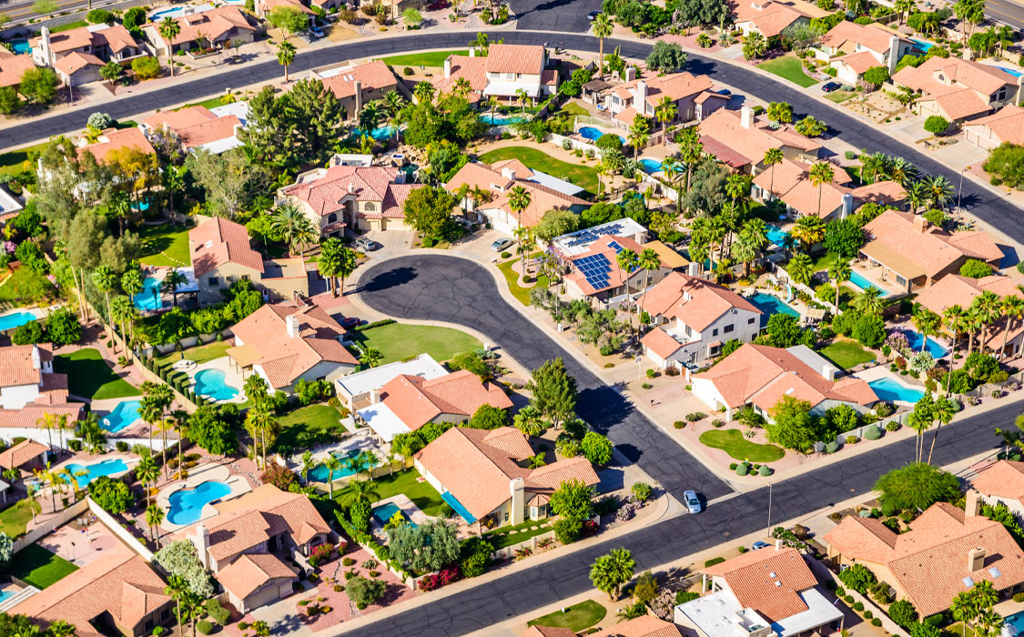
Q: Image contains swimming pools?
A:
Yes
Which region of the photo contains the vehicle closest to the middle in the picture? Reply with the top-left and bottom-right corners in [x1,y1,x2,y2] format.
[491,237,511,249]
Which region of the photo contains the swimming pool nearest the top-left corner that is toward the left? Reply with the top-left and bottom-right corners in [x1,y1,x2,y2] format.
[11,39,33,56]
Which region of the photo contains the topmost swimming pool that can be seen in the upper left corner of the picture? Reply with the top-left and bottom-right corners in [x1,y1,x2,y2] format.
[149,7,185,20]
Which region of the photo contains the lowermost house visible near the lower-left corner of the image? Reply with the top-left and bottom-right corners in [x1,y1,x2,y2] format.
[0,552,170,637]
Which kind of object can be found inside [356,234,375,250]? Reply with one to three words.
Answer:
car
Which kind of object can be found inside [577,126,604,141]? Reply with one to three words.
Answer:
swimming pool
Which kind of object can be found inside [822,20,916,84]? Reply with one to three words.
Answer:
house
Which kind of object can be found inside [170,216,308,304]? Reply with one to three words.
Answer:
house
